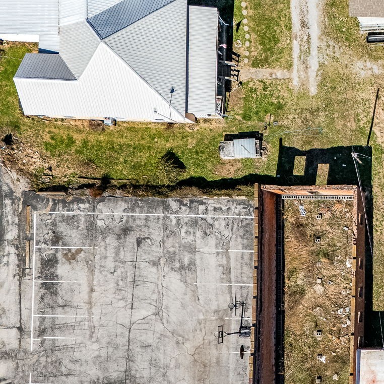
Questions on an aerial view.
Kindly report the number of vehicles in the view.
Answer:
0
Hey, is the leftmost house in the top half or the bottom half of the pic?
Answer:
top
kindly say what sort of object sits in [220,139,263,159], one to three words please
shed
